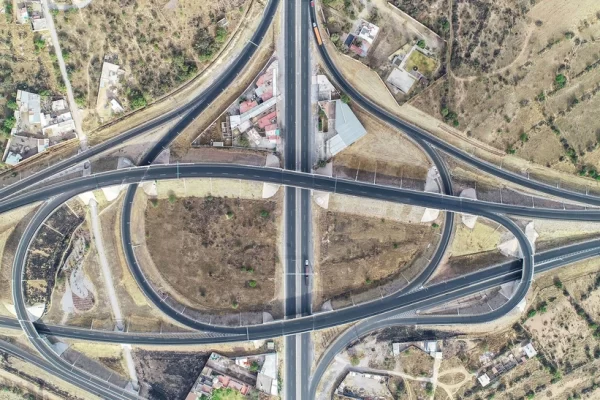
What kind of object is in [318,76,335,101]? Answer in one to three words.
house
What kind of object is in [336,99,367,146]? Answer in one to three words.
building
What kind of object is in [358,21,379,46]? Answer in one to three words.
house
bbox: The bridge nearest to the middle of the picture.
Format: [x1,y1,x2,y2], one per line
[263,154,332,209]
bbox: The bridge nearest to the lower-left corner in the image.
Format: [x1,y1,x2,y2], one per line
[3,303,69,354]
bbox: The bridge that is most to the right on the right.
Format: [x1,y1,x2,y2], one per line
[497,221,538,297]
